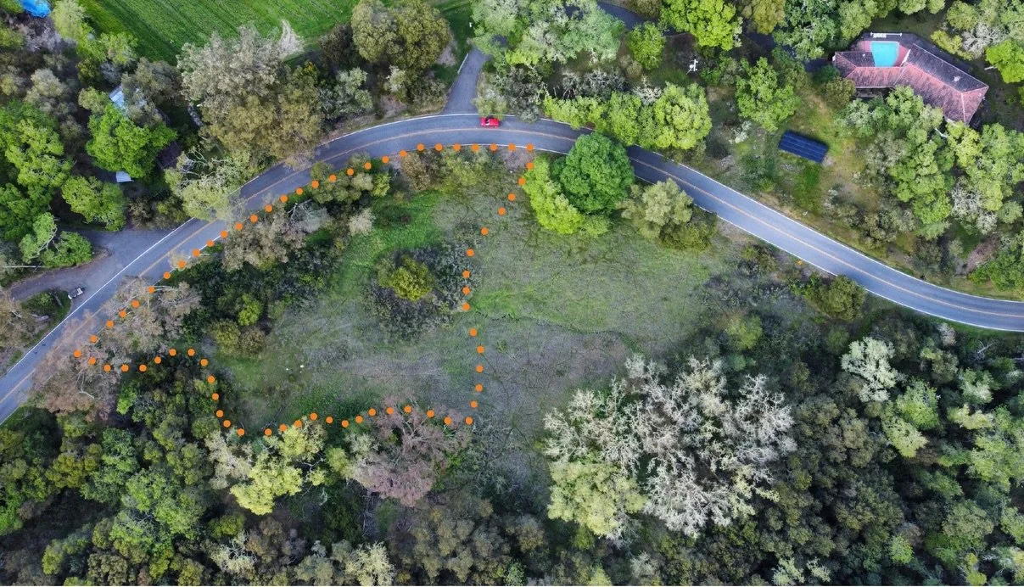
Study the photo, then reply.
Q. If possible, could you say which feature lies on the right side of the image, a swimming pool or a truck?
swimming pool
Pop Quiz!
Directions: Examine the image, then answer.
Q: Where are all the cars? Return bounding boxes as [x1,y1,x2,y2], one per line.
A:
[480,118,499,127]
[64,286,84,300]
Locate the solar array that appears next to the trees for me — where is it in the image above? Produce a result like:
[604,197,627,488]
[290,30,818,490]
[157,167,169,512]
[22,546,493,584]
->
[779,131,828,162]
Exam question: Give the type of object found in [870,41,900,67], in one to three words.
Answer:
swimming pool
